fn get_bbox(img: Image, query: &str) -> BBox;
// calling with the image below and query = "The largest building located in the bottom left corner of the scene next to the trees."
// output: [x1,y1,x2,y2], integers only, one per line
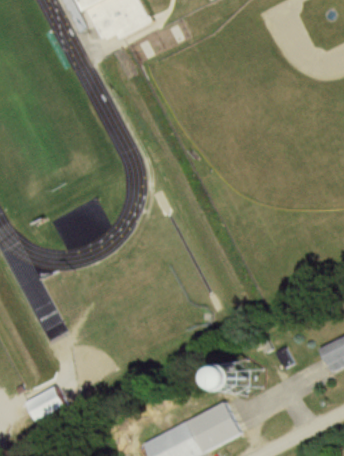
[26,386,62,421]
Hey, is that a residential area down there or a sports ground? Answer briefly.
sports ground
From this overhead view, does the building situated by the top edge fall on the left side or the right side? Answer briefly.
left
